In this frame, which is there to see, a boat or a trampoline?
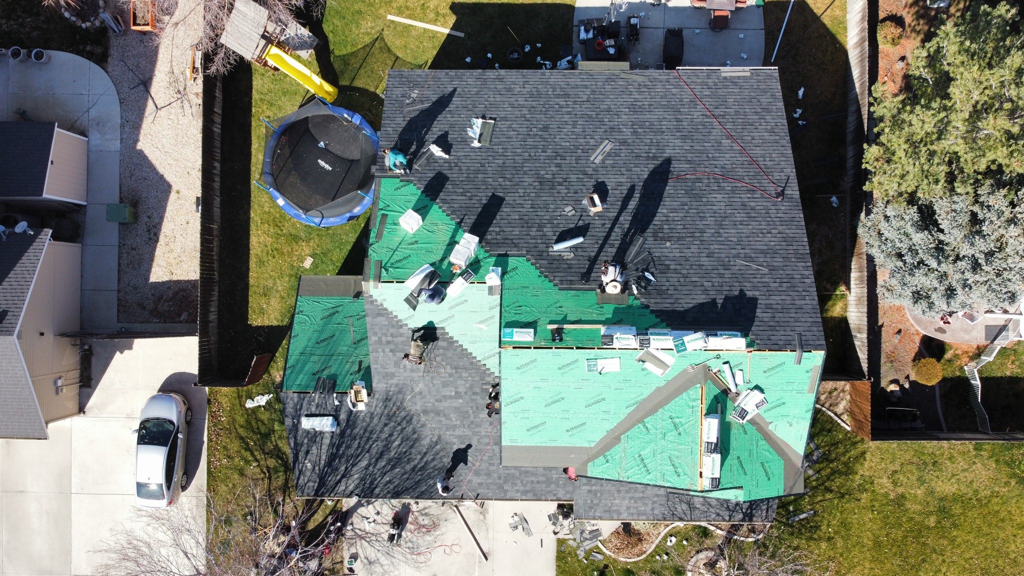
trampoline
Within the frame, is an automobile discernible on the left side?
Yes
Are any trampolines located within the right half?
No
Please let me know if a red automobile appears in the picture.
No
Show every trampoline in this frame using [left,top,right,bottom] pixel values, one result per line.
[247,94,376,228]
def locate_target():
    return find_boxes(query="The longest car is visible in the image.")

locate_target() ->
[129,392,190,508]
